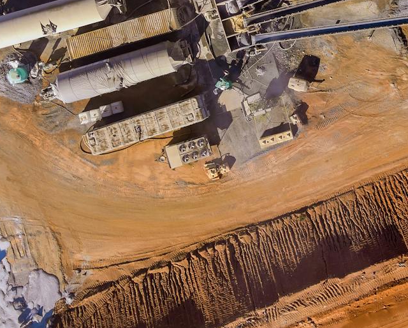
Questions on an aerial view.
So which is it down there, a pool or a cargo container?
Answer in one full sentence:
This aerial view contains a cargo container.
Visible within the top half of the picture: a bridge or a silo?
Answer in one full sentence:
Looking within the top half of the picture, you will find a silo.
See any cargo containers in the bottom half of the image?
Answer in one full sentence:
No, there is no cargo container in the bottom half of the image.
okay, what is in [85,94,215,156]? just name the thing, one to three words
trailer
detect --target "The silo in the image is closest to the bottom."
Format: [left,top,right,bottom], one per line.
[40,37,197,100]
